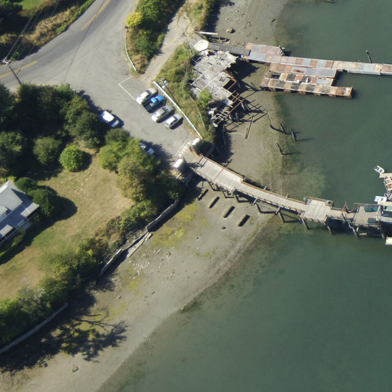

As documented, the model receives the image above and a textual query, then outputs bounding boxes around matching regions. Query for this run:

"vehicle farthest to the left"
[101,109,119,126]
